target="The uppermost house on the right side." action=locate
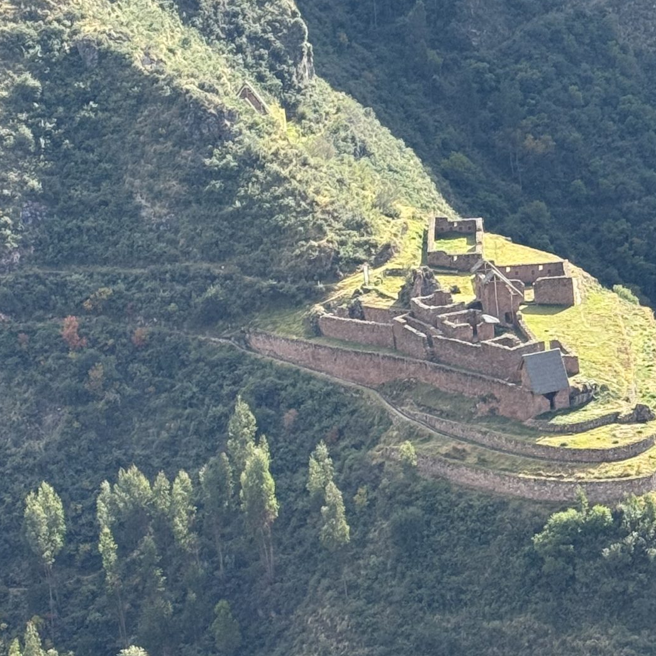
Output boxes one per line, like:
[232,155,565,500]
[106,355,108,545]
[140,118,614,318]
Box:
[426,215,485,271]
